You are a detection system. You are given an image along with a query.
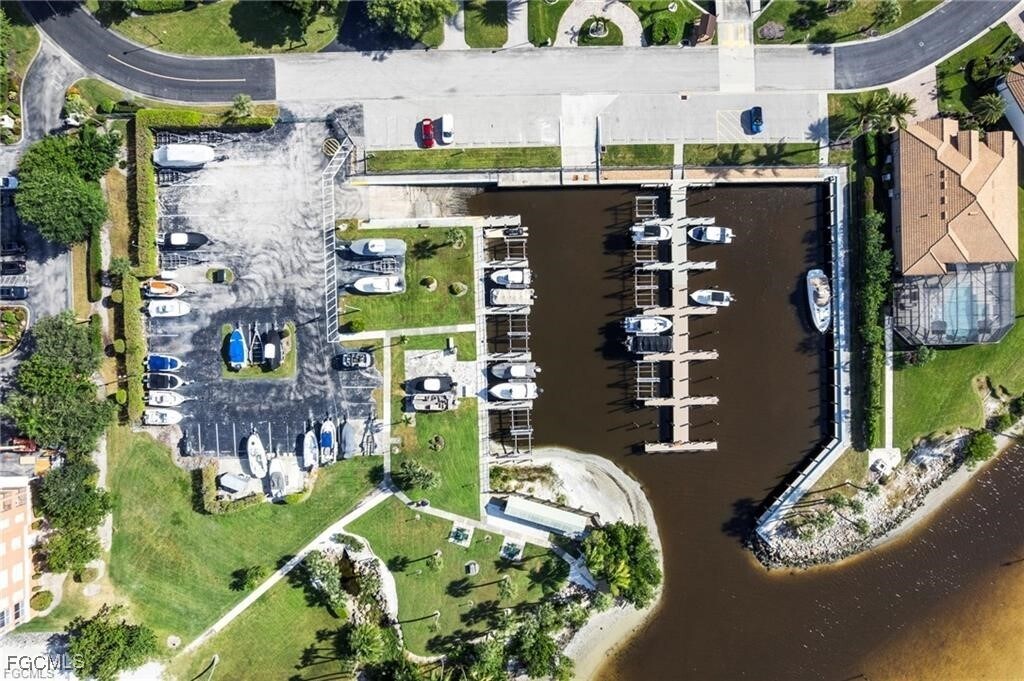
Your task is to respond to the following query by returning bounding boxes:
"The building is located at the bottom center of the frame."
[504,496,587,533]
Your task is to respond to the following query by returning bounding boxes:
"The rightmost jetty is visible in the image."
[756,187,841,533]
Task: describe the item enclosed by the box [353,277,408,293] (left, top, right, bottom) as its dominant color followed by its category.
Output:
white boat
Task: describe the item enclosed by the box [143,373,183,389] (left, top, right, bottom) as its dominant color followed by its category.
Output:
black boat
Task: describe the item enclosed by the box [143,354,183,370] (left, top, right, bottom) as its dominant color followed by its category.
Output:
blue boat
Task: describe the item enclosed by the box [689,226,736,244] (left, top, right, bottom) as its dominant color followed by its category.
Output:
white boat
